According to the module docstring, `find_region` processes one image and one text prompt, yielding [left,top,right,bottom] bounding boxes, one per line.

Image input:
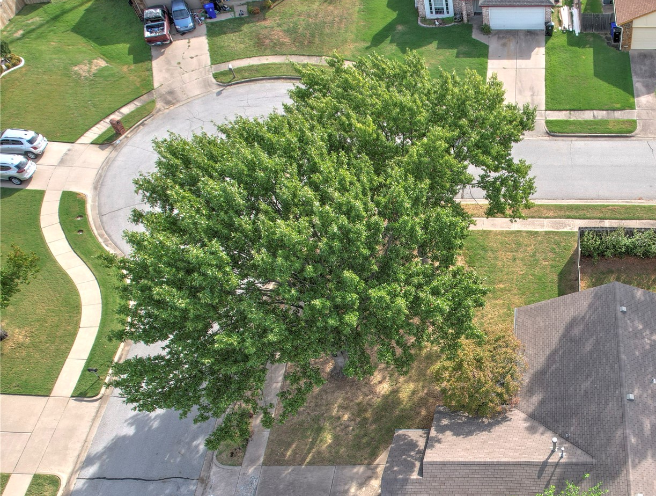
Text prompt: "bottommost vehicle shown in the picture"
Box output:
[0,158,35,190]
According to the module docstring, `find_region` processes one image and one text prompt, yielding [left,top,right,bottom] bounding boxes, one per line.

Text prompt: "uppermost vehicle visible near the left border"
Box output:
[0,131,46,163]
